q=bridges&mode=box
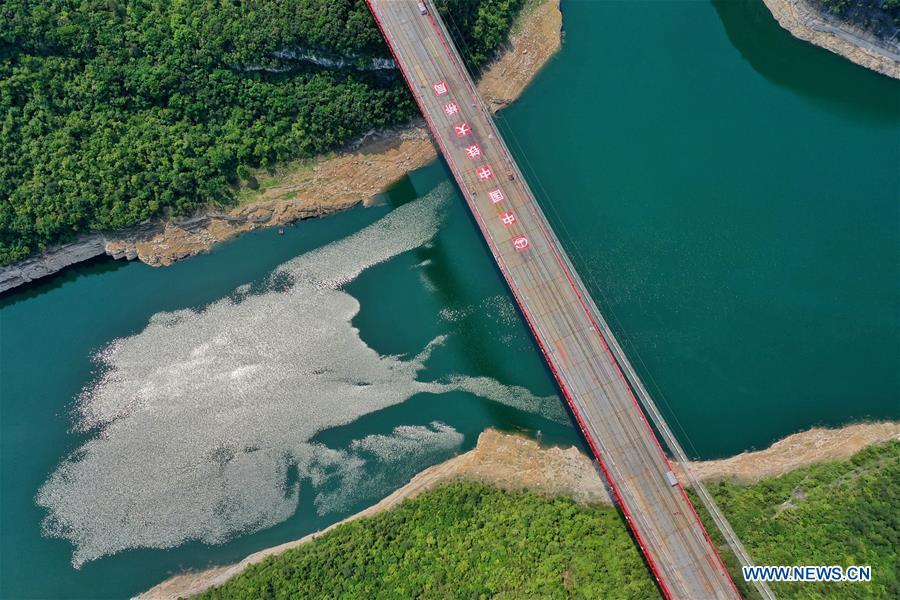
[366,0,773,600]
